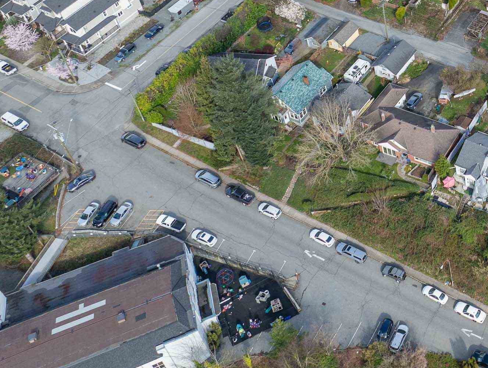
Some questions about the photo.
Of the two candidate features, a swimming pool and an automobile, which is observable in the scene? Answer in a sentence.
This aerial view contains an automobile.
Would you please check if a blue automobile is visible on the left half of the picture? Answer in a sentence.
Yes, a blue automobile appears on the left half of the picture.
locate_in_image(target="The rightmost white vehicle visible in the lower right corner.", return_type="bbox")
[455,304,486,325]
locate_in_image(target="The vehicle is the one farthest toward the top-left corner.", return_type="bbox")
[0,62,17,74]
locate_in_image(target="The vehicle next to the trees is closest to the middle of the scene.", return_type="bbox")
[224,188,254,206]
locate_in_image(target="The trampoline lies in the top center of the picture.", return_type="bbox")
[253,16,275,36]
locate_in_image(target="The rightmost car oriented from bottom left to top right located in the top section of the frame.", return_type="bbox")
[404,92,426,110]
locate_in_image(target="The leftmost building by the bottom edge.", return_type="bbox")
[0,240,225,368]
